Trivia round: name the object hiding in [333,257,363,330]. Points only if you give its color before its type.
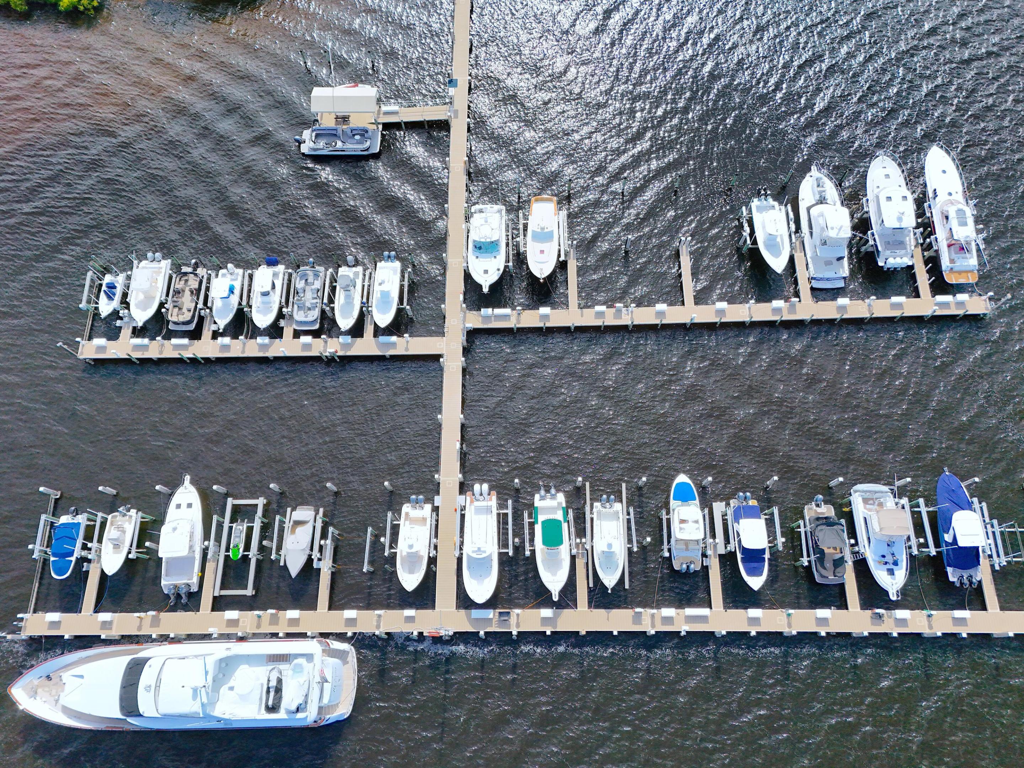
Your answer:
white boat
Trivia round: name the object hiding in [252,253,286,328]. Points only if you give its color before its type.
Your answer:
white boat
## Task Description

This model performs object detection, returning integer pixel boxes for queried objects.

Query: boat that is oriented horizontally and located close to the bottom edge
[7,639,359,733]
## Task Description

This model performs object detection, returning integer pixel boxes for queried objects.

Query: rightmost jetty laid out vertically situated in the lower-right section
[979,543,1000,611]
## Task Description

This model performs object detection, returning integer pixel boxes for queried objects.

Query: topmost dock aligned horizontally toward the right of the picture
[466,297,989,327]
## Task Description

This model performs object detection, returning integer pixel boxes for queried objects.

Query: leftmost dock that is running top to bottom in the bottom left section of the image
[81,550,103,613]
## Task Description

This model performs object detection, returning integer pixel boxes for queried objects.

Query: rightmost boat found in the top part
[923,141,1002,286]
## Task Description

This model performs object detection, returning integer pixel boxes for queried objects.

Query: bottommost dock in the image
[21,609,1024,635]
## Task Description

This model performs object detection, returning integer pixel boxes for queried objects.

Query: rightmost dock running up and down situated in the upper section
[911,235,932,298]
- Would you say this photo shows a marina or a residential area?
marina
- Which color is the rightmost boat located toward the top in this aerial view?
white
